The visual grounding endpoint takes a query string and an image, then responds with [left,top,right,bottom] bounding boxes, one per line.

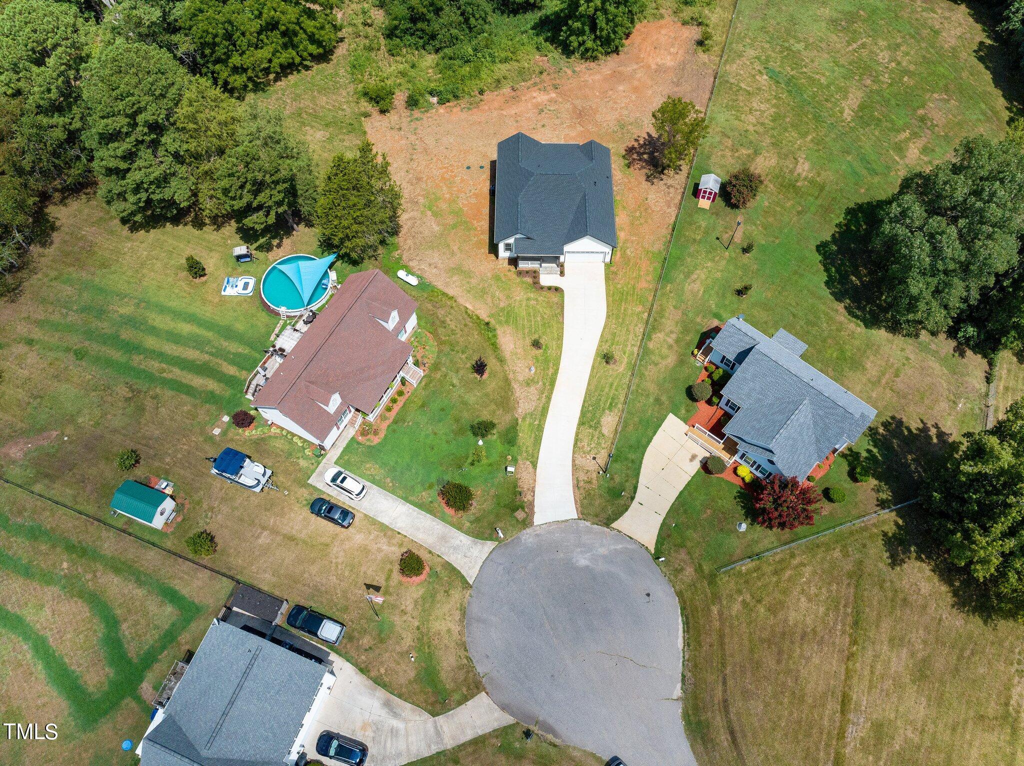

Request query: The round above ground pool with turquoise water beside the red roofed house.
[260,254,333,323]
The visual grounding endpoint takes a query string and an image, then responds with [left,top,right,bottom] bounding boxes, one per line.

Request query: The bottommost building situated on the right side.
[682,310,877,487]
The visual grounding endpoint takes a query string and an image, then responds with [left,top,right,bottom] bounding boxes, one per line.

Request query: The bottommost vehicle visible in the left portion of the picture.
[315,733,370,766]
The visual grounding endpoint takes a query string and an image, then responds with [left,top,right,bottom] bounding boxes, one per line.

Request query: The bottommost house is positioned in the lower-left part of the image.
[135,620,341,766]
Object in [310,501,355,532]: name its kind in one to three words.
car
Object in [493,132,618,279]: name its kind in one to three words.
house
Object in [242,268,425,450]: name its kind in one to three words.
house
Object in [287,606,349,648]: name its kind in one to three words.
truck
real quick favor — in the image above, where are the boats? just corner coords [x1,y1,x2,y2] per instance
[205,444,272,491]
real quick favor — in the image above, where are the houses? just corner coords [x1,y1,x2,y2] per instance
[493,132,618,279]
[135,620,341,766]
[682,310,877,487]
[242,268,425,450]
